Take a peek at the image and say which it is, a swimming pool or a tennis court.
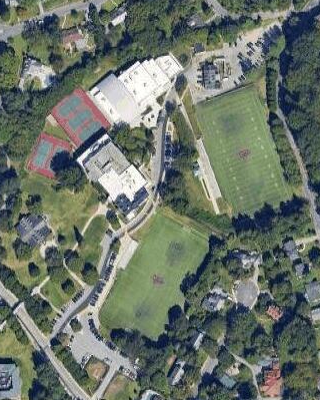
tennis court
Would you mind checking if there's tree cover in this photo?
Yes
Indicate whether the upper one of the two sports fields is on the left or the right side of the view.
right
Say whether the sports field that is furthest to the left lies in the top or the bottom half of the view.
bottom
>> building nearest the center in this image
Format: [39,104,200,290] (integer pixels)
[80,141,149,220]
